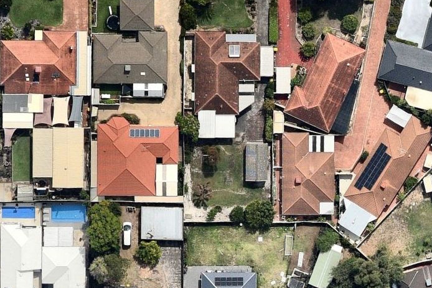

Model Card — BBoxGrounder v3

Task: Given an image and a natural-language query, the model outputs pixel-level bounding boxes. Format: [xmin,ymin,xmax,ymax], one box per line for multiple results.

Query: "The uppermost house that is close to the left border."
[0,30,91,96]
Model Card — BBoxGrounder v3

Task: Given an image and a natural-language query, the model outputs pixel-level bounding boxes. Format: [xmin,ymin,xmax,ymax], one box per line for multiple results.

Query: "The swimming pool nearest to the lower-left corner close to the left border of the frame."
[0,205,36,219]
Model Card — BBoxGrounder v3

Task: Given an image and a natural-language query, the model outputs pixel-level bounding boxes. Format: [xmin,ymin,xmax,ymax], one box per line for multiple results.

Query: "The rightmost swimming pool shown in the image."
[50,204,88,223]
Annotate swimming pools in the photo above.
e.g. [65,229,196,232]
[50,204,88,223]
[0,205,36,219]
